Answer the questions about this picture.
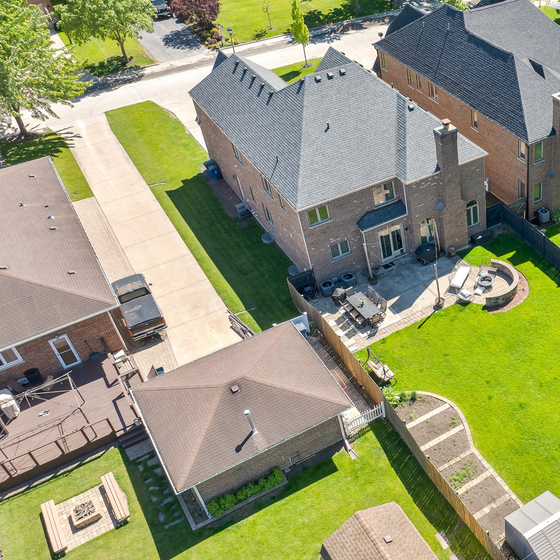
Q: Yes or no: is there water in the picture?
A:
No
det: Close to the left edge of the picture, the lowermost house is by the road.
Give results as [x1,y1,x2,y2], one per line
[0,151,132,395]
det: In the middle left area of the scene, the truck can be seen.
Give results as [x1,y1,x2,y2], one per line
[112,273,167,338]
